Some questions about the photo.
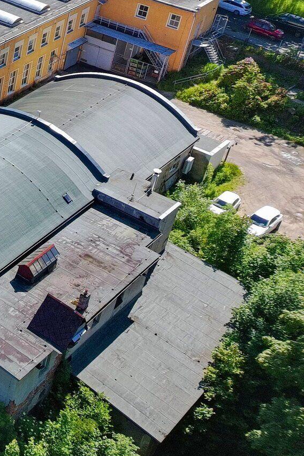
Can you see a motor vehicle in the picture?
Yes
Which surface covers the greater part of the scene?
buildings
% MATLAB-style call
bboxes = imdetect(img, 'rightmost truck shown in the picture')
[281,6,304,32]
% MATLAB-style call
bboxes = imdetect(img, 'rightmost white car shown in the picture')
[233,198,291,237]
